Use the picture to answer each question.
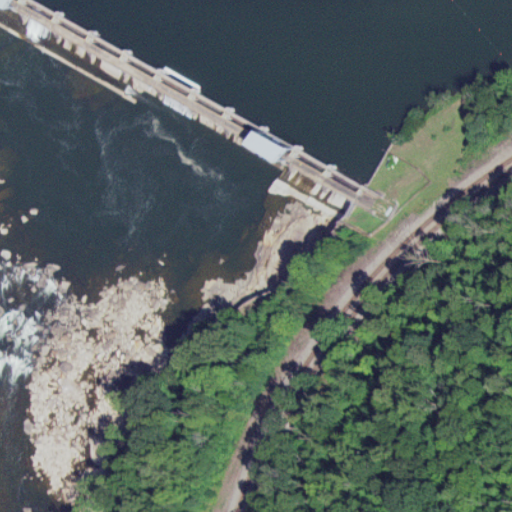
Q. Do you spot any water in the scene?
Yes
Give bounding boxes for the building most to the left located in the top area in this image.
[242,130,288,165]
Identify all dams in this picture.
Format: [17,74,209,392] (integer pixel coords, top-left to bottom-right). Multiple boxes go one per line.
[0,0,388,210]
